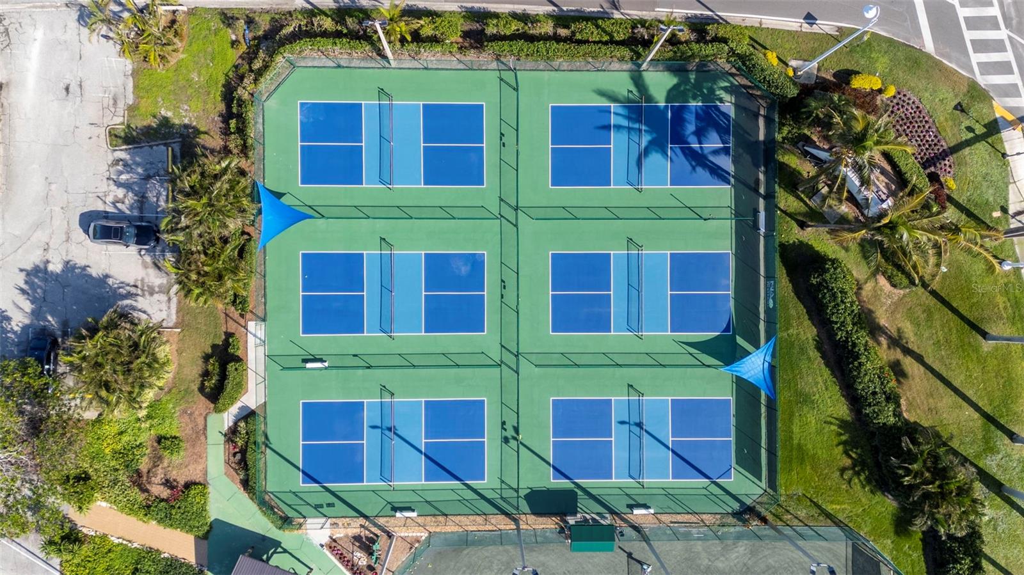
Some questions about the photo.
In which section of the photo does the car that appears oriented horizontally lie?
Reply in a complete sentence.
The car that appears oriented horizontally is in the left part of the image.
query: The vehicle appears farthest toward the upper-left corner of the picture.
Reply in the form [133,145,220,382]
[82,218,157,249]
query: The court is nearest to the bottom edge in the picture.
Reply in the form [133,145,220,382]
[392,529,895,575]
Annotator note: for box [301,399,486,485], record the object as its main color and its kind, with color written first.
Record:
blue sports court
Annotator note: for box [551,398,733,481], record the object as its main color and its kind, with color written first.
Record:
blue sports court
